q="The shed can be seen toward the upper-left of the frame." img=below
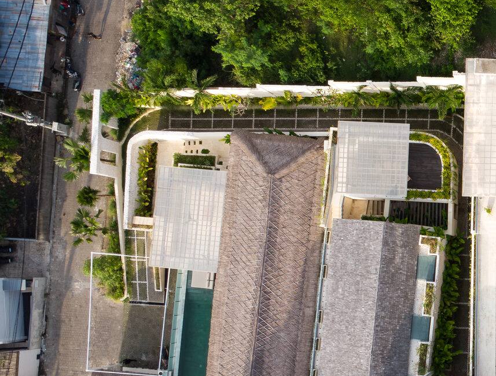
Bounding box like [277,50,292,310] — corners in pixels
[0,0,60,98]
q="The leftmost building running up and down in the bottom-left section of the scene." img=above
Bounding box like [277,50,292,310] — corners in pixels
[0,279,33,344]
